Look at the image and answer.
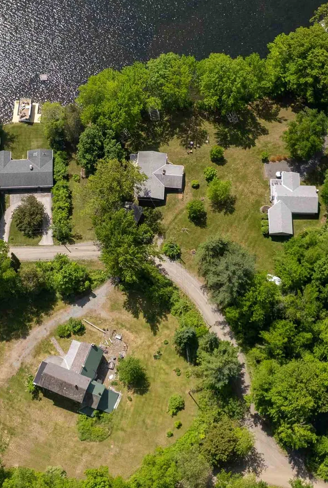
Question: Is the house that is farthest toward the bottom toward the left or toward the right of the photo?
left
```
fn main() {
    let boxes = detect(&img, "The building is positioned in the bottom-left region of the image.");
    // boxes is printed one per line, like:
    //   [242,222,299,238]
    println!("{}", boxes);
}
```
[34,340,123,417]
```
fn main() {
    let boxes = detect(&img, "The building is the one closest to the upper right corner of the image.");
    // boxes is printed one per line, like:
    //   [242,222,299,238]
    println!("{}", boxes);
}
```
[267,172,316,237]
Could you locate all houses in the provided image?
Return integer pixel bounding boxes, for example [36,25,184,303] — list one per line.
[131,151,183,204]
[34,340,123,417]
[267,172,316,237]
[0,149,53,190]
